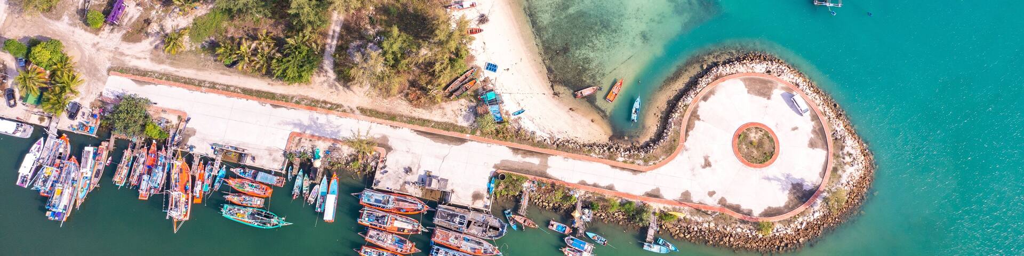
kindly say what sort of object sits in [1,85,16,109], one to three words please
vehicle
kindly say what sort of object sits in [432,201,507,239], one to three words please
ship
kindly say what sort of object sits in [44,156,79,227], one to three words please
boat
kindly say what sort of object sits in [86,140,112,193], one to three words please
boat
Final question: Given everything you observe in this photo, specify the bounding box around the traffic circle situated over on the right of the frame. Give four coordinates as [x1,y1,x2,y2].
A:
[732,122,779,168]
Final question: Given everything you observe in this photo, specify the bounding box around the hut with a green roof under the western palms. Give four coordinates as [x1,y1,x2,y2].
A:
[14,88,44,106]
